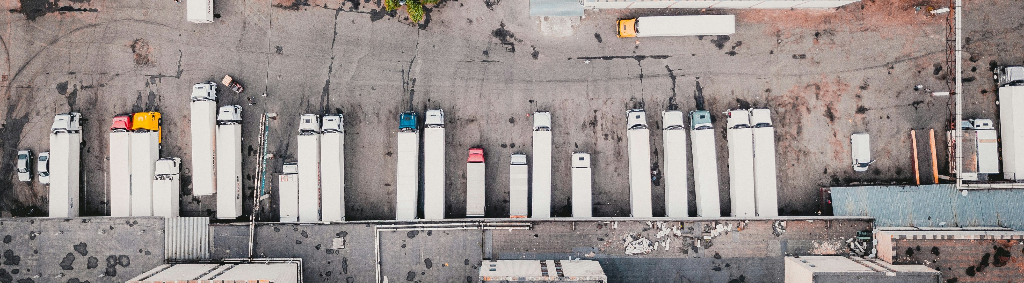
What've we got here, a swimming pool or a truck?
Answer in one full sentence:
Of the two, only a truck appears.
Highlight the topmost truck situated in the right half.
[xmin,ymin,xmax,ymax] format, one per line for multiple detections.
[613,15,734,38]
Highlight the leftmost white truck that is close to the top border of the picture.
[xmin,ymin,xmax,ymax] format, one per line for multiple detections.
[187,0,218,23]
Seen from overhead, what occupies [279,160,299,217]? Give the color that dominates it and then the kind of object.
white vehicle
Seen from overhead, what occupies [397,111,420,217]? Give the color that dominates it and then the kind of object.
white truck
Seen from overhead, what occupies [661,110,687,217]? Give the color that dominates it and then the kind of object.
white truck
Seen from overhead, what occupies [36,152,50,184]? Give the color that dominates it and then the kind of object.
white car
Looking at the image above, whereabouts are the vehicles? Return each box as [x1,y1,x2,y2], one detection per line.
[720,109,755,217]
[625,109,651,217]
[661,110,687,217]
[190,82,220,196]
[279,160,299,217]
[997,65,1024,178]
[508,152,529,215]
[466,146,487,215]
[397,111,420,217]
[424,108,448,217]
[16,150,35,181]
[320,113,347,217]
[613,15,734,38]
[849,132,876,171]
[298,113,323,217]
[131,111,164,216]
[153,155,185,217]
[216,104,246,217]
[531,111,554,217]
[187,0,218,23]
[965,118,998,173]
[49,112,86,216]
[570,151,592,217]
[110,112,140,216]
[689,109,720,217]
[747,108,777,217]
[36,152,50,184]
